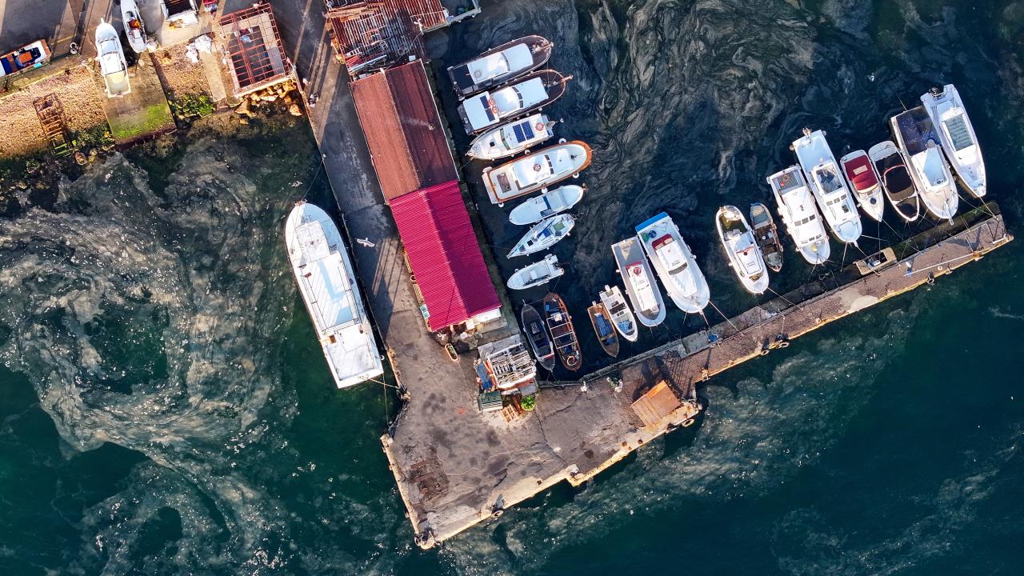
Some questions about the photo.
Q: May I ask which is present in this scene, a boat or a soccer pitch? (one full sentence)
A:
I can see a boat in this picture.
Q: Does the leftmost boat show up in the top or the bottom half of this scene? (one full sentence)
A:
It is in the top half that the leftmost boat appears.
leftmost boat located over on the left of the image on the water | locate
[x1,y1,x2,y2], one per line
[286,200,385,389]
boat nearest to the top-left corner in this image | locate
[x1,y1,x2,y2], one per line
[0,39,53,78]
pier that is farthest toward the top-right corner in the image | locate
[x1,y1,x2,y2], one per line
[292,0,1009,549]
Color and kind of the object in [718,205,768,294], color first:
white boat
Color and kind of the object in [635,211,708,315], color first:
white boat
